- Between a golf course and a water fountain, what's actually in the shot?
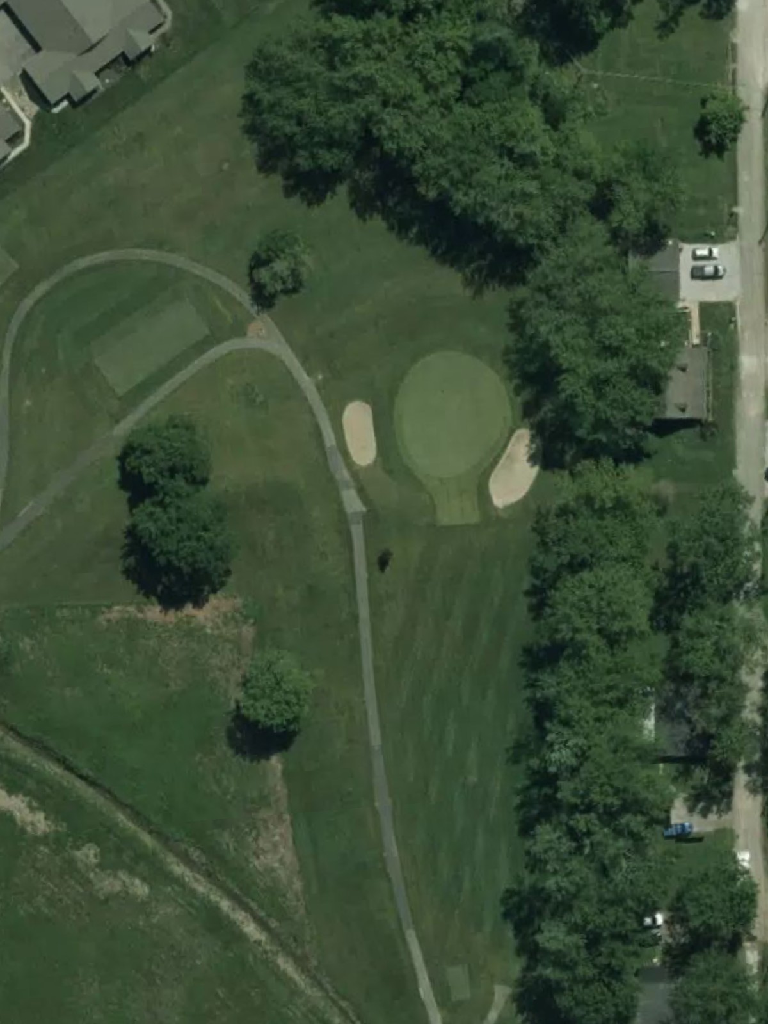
golf course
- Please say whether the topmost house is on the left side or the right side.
left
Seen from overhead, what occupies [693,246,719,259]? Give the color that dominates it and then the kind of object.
white vehicle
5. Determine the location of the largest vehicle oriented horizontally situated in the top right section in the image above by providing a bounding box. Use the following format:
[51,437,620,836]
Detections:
[690,265,725,279]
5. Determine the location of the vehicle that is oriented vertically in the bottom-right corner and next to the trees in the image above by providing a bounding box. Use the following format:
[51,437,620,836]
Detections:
[738,849,751,879]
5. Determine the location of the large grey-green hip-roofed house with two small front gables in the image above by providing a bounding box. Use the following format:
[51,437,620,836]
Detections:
[6,0,165,104]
